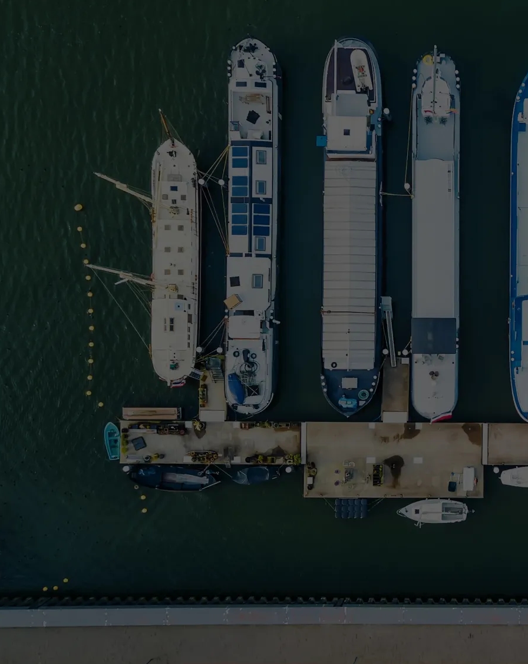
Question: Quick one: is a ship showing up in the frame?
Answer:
Yes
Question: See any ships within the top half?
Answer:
Yes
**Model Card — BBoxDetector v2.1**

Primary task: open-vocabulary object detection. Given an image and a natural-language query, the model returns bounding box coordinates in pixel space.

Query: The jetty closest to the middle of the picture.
[199,356,229,422]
